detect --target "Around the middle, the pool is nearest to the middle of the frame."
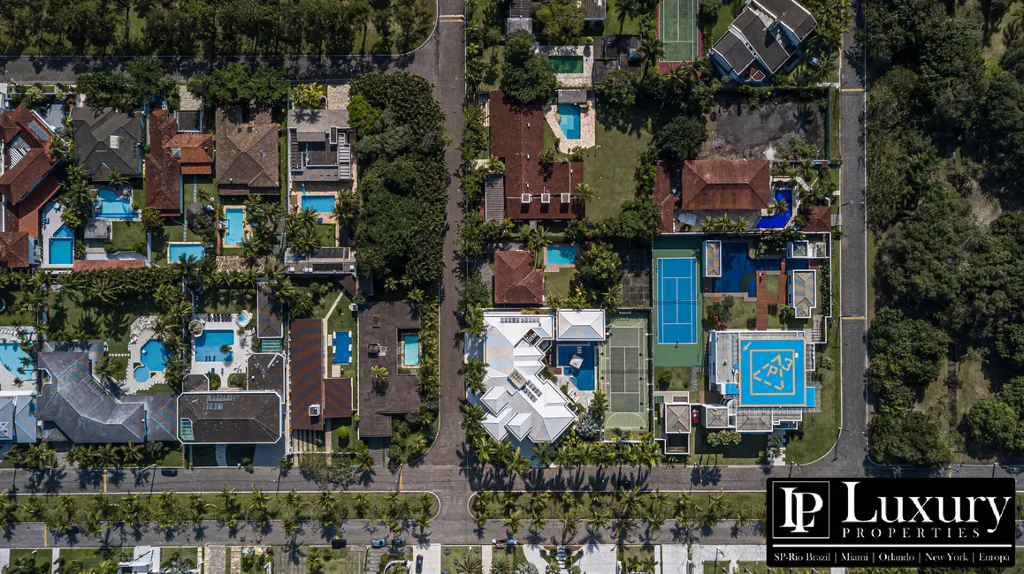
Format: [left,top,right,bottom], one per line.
[544,243,580,267]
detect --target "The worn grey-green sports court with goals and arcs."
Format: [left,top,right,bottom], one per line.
[605,312,650,431]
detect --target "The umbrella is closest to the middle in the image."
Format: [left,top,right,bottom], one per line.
[569,353,585,369]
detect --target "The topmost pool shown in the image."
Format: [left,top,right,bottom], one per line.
[548,54,585,74]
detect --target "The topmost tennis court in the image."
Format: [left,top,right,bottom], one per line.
[657,0,703,76]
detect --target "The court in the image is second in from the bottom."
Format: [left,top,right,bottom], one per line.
[655,234,704,365]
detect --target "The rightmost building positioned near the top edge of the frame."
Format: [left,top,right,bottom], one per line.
[708,0,815,84]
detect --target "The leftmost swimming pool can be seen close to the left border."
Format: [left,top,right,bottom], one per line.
[0,342,34,382]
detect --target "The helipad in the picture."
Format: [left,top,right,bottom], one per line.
[738,337,806,407]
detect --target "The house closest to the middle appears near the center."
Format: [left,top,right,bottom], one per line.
[495,251,544,304]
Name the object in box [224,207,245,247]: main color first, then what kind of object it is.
blue swimming pool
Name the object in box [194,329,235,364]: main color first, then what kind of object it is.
blue swimming pool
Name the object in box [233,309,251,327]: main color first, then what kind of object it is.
white swimming pool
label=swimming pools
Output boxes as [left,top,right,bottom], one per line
[47,223,76,266]
[194,329,235,364]
[544,243,580,267]
[756,188,793,229]
[97,186,132,214]
[0,342,34,382]
[786,259,809,270]
[233,309,251,327]
[713,241,783,297]
[138,338,172,373]
[93,213,139,219]
[133,366,151,383]
[402,332,421,369]
[299,193,337,214]
[548,54,585,74]
[224,207,245,247]
[167,241,206,264]
[555,101,582,141]
[557,344,596,392]
[332,331,352,365]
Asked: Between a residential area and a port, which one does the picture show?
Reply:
residential area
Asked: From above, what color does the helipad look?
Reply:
blue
